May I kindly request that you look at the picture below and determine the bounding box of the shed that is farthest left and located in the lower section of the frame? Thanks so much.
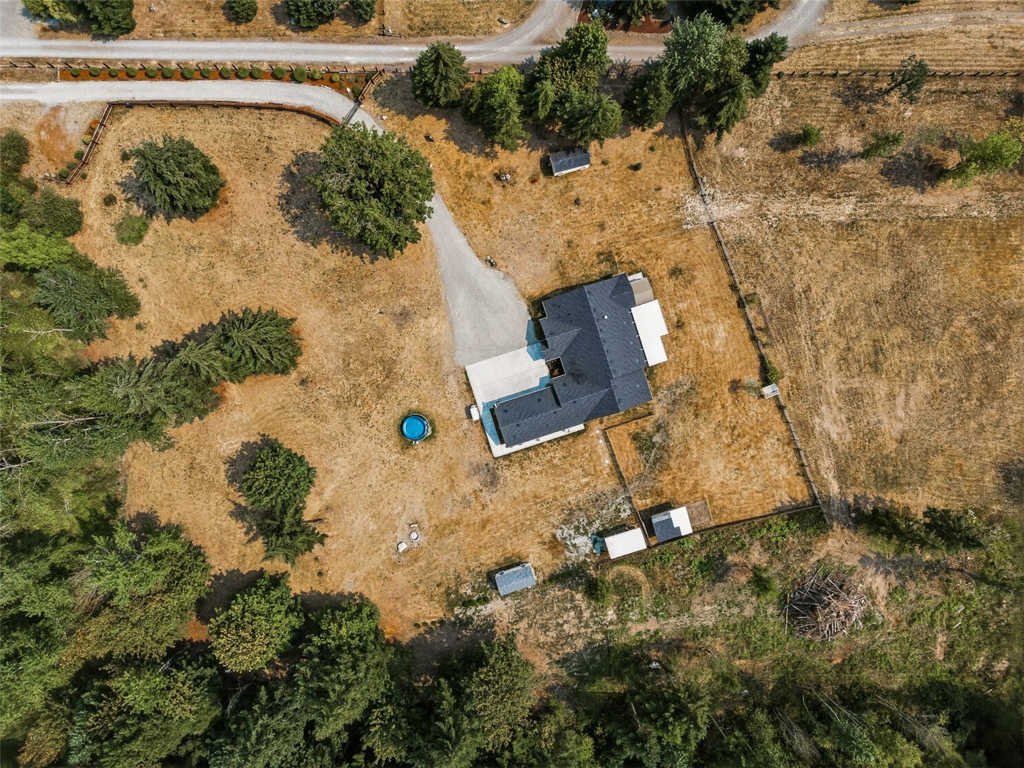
[494,560,536,594]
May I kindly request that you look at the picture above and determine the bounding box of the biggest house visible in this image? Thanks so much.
[495,272,653,448]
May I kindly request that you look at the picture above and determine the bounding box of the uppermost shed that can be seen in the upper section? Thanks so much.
[551,146,593,178]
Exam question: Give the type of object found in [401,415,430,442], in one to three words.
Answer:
swimming pool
